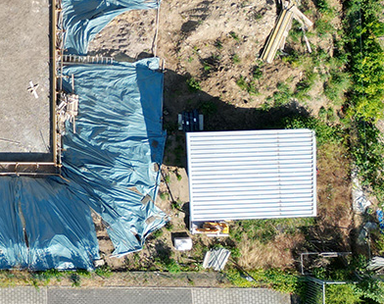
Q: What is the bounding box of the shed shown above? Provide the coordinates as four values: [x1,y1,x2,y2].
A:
[163,127,320,224]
